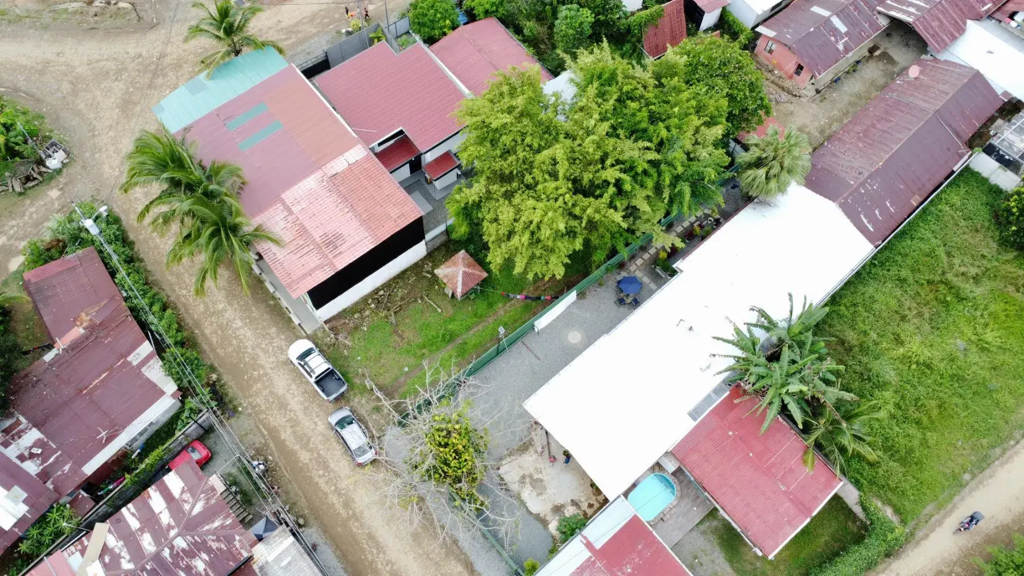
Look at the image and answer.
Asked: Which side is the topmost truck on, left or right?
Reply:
left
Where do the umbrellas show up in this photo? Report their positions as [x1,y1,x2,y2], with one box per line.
[616,276,640,296]
[250,516,279,541]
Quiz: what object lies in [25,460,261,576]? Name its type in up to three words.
house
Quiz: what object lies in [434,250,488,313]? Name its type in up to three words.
shed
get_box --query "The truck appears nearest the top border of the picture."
[292,340,350,406]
